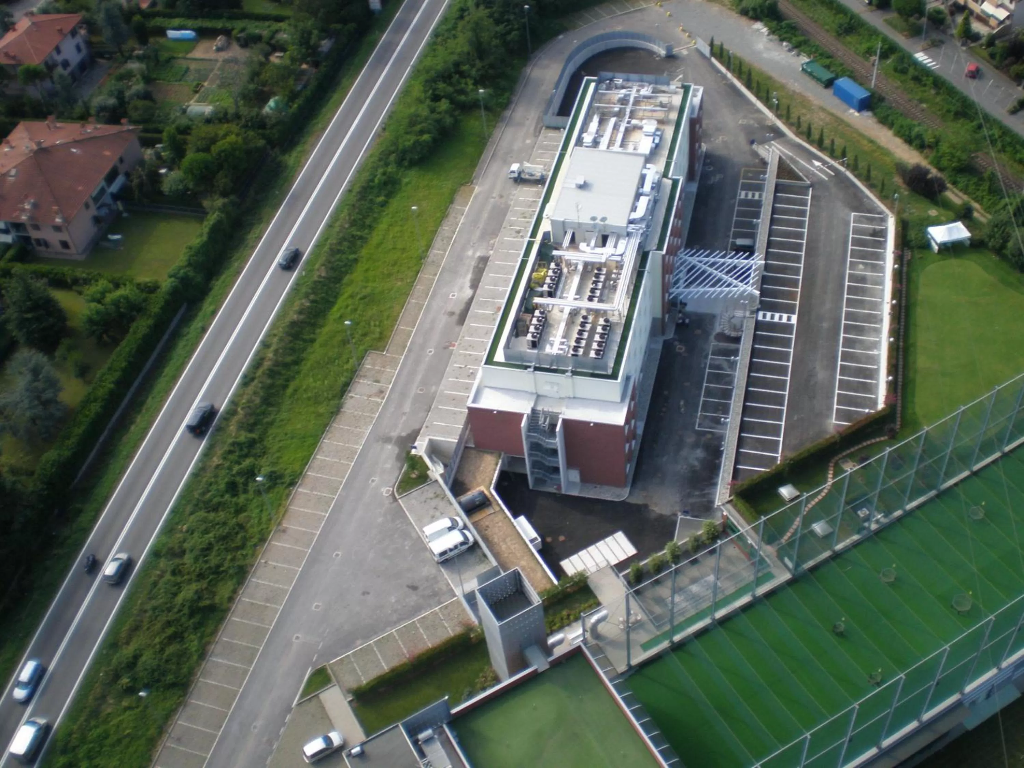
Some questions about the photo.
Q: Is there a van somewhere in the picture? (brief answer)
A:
Yes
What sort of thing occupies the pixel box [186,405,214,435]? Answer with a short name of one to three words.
car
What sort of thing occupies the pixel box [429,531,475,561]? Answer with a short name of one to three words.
van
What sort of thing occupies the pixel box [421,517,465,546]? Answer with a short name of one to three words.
van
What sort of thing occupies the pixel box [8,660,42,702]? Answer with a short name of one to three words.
car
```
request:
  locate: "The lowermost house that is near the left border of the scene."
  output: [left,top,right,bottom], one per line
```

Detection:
[0,120,150,258]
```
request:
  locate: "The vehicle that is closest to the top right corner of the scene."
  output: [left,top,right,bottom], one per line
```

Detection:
[966,64,980,79]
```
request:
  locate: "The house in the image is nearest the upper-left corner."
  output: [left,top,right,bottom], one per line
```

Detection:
[0,9,90,94]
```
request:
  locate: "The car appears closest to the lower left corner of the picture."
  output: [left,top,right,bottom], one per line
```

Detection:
[5,716,48,765]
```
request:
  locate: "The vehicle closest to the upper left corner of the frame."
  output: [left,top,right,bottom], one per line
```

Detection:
[279,250,299,270]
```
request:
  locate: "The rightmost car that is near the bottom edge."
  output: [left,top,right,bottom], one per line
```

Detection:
[300,731,347,768]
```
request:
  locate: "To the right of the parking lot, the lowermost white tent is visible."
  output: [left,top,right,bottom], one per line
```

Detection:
[925,222,971,256]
